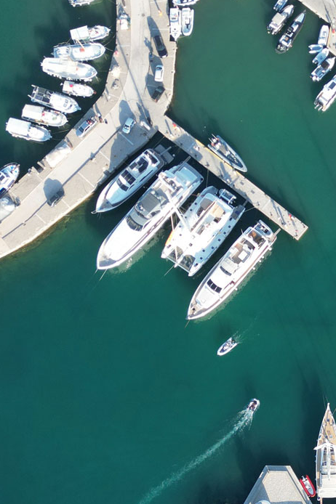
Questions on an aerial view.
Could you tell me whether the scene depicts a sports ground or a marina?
marina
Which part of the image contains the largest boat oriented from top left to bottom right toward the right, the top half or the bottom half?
top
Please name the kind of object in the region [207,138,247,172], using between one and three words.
boat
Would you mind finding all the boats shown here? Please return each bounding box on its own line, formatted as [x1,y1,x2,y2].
[311,58,335,82]
[272,0,287,13]
[299,474,314,496]
[19,104,67,128]
[53,40,112,61]
[182,6,193,36]
[316,76,336,109]
[174,0,198,6]
[163,175,257,280]
[218,336,238,355]
[207,138,247,172]
[268,6,294,35]
[276,10,308,53]
[170,10,181,39]
[309,45,327,52]
[67,24,109,43]
[313,50,328,66]
[314,401,336,504]
[22,83,96,112]
[96,164,221,276]
[247,399,258,413]
[38,54,97,81]
[0,166,17,198]
[67,0,97,6]
[90,143,171,221]
[1,116,68,142]
[58,79,103,99]
[185,207,280,328]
